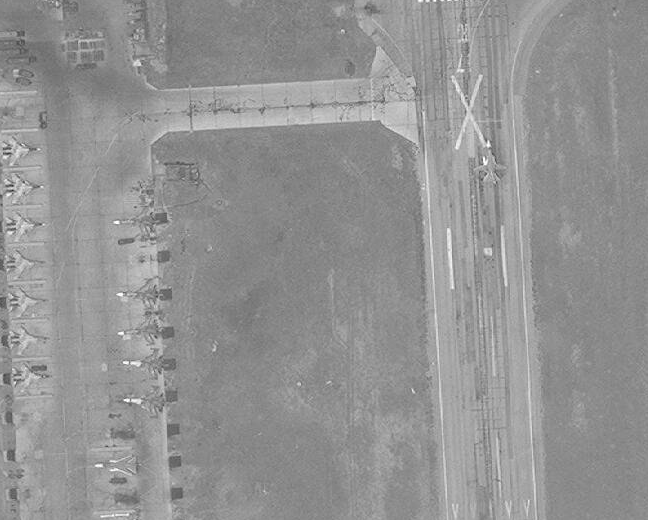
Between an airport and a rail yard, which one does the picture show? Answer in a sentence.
What you see here is an airport.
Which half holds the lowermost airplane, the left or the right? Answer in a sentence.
You can find the lowermost airplane on the left side of the picture.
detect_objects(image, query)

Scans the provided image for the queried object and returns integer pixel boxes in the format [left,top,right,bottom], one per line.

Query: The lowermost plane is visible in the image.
[96,454,138,475]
